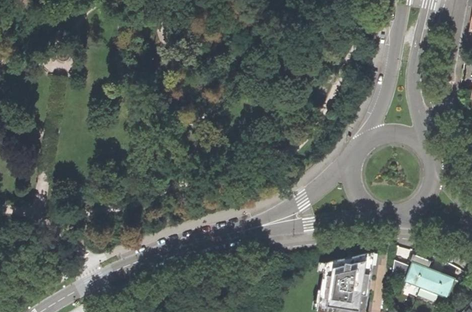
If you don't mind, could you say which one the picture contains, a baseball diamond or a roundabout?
roundabout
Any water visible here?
No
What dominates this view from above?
trees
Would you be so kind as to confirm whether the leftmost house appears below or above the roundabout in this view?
below it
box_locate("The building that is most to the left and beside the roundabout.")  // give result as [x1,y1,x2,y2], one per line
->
[312,252,378,312]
